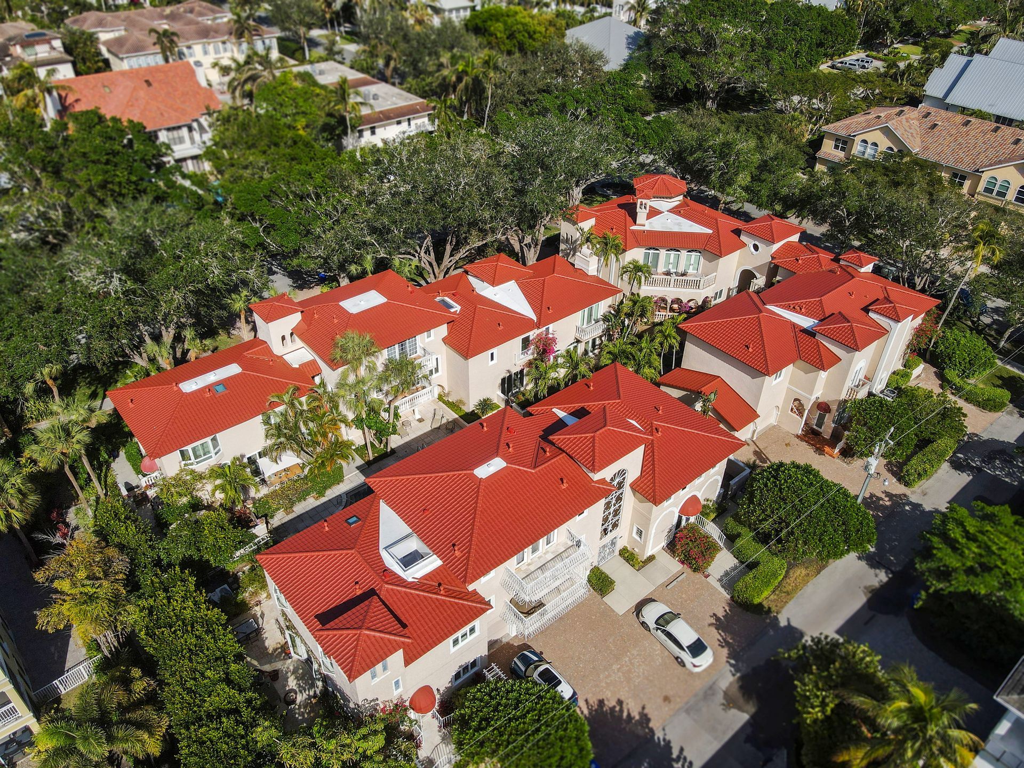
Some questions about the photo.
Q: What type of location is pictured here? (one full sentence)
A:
The area seen from above is a residential area.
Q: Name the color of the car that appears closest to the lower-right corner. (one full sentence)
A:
The car that appears closest to the lower-right corner is white.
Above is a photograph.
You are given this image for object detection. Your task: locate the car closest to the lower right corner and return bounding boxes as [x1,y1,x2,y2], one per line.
[636,598,719,672]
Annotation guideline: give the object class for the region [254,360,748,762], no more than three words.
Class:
house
